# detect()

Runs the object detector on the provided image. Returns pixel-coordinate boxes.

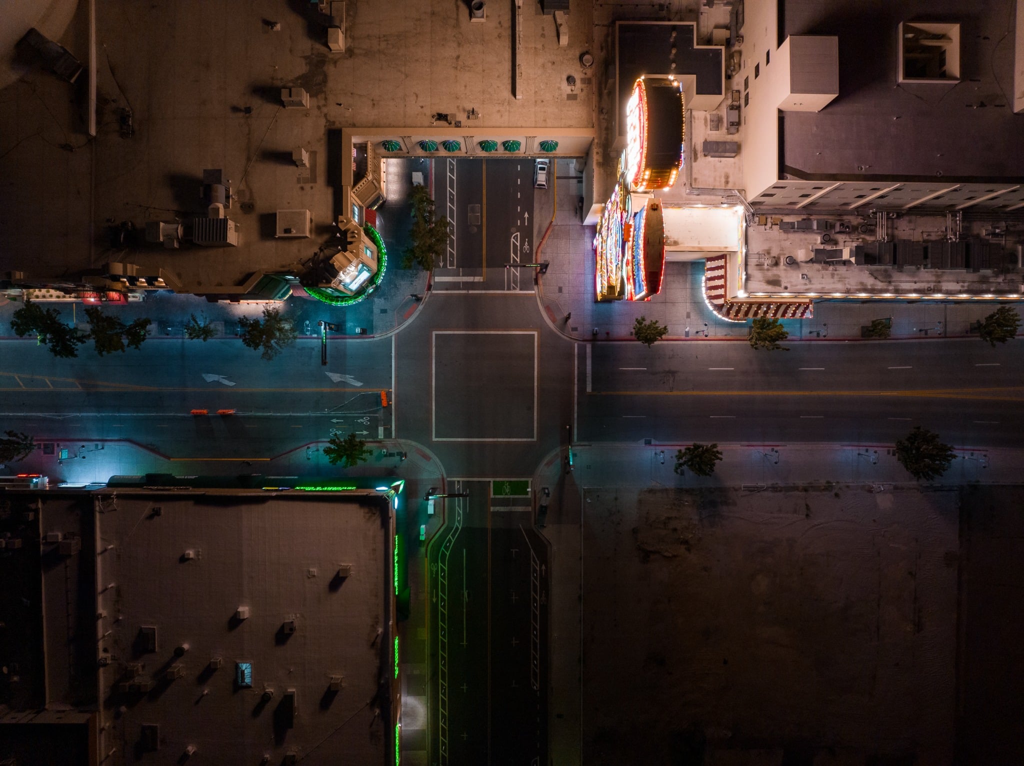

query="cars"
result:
[534,164,549,188]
